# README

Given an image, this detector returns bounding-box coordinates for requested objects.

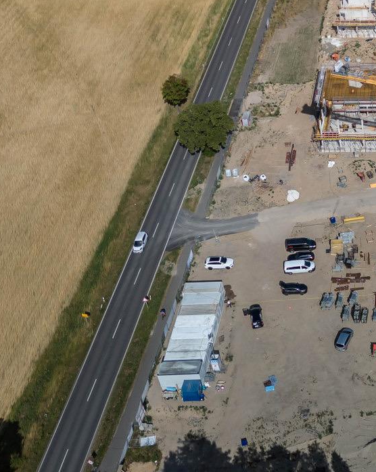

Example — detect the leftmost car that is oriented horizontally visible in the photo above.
[205,256,233,269]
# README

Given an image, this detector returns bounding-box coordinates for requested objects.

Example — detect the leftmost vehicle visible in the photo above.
[131,231,148,251]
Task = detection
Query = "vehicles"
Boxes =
[332,328,354,351]
[285,237,316,252]
[131,231,148,251]
[245,305,263,326]
[287,250,314,261]
[205,256,233,269]
[277,280,307,294]
[283,258,314,273]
